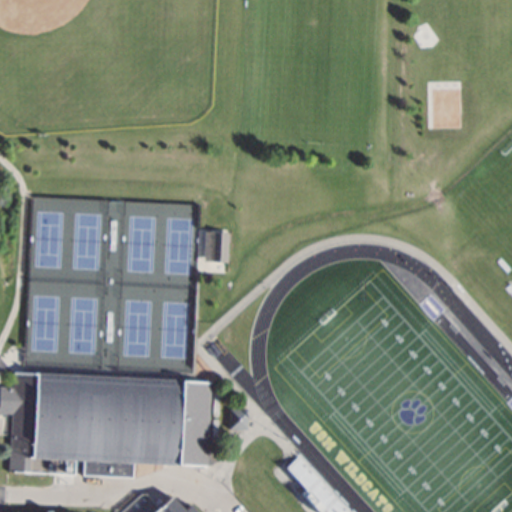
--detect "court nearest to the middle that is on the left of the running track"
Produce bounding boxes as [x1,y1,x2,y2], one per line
[164,218,193,275]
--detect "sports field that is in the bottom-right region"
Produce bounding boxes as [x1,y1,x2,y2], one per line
[267,260,512,512]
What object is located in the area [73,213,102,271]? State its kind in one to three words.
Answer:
tennis court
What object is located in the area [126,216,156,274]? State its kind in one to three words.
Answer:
tennis court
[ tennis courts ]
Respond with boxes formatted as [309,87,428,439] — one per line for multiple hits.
[164,218,193,275]
[122,300,152,358]
[30,296,60,353]
[126,216,156,274]
[35,212,64,270]
[160,301,190,359]
[73,213,102,271]
[68,297,98,354]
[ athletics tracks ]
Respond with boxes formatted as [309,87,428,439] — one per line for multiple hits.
[249,245,512,512]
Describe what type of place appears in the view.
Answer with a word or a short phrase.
sports ground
